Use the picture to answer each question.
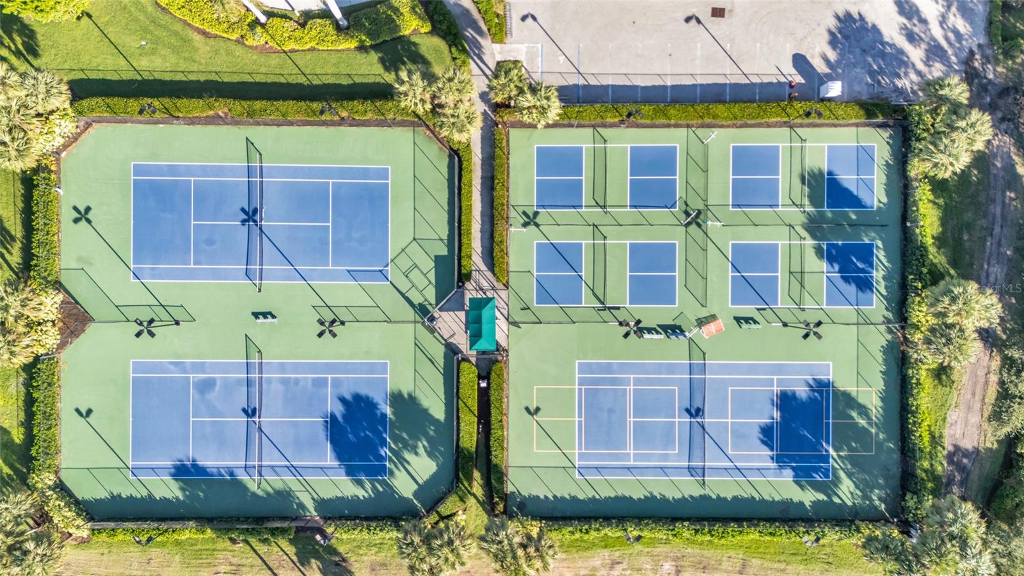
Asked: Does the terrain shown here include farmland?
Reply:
No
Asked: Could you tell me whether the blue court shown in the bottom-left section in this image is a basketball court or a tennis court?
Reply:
tennis court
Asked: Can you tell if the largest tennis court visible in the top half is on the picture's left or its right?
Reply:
left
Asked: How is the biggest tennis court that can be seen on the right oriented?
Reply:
from side to side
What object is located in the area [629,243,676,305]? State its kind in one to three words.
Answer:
sports court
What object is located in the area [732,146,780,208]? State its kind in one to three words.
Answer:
sports court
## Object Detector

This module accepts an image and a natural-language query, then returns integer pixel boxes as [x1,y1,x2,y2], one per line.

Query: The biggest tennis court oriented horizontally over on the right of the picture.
[577,361,832,479]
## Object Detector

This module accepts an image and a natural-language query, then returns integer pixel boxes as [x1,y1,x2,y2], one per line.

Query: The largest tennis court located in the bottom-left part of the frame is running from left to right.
[131,360,388,478]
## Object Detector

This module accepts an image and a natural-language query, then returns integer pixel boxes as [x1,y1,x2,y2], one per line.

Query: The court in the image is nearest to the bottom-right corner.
[730,388,874,454]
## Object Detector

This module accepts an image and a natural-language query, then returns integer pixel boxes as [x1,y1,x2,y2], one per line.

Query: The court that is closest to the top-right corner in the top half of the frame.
[827,146,875,208]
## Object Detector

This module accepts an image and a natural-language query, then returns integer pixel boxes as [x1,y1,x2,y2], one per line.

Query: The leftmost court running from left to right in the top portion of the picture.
[131,163,391,283]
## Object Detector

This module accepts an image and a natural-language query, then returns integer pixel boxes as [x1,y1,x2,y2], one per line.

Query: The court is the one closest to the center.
[536,243,583,305]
